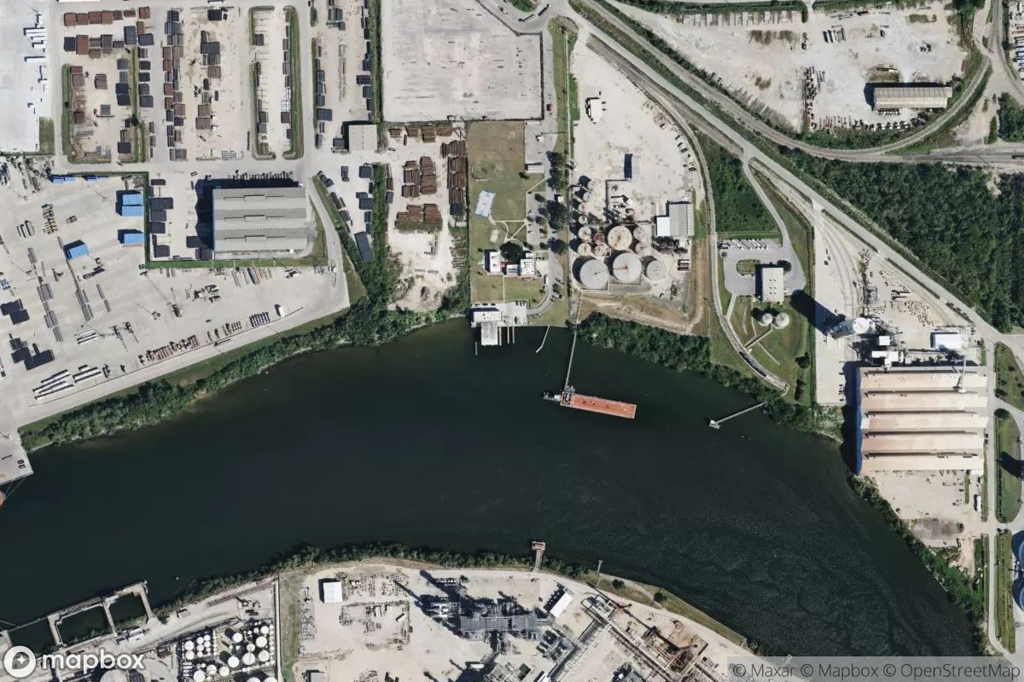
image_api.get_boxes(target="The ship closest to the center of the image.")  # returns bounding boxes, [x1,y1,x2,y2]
[560,392,635,419]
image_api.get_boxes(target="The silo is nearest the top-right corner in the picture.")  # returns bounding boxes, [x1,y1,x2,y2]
[835,318,873,340]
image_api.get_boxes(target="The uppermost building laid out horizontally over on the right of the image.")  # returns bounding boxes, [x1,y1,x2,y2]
[871,87,953,110]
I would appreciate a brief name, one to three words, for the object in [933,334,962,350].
shed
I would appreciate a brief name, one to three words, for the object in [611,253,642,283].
storage tank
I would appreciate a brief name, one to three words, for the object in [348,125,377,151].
building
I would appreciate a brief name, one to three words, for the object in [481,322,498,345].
pier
